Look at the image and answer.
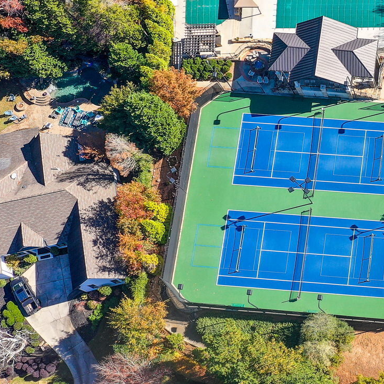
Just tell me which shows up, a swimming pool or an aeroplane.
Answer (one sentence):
The one in the frame is a swimming pool.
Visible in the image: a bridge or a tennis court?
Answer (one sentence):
It is a tennis court that can be seen here.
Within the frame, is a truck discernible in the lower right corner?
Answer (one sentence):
No, I can find no truck in the lower right corner.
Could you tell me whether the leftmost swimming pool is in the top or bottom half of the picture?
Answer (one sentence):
The top half of the photo is where the leftmost swimming pool is.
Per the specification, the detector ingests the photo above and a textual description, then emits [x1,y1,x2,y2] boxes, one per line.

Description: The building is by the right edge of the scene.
[265,16,378,99]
